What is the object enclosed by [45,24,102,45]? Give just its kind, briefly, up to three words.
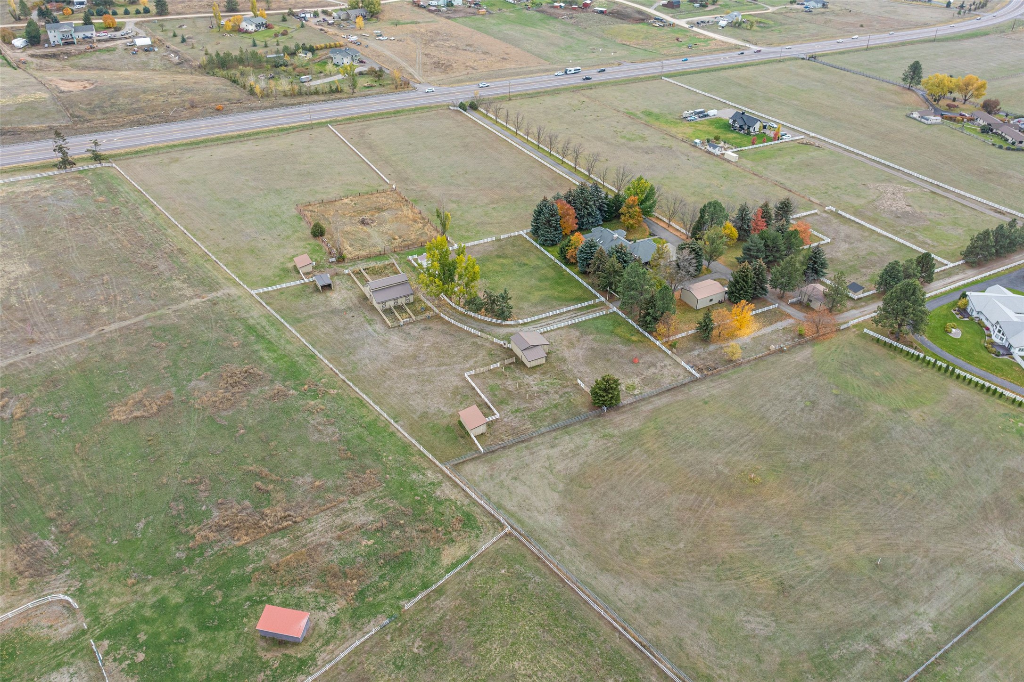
house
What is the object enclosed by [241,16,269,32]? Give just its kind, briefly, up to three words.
house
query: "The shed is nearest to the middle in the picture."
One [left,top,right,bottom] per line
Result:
[508,330,552,367]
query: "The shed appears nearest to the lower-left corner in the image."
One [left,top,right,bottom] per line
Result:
[255,605,309,643]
